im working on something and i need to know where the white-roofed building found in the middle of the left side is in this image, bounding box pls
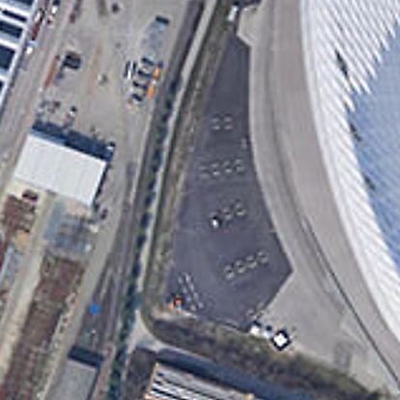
[15,135,109,206]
